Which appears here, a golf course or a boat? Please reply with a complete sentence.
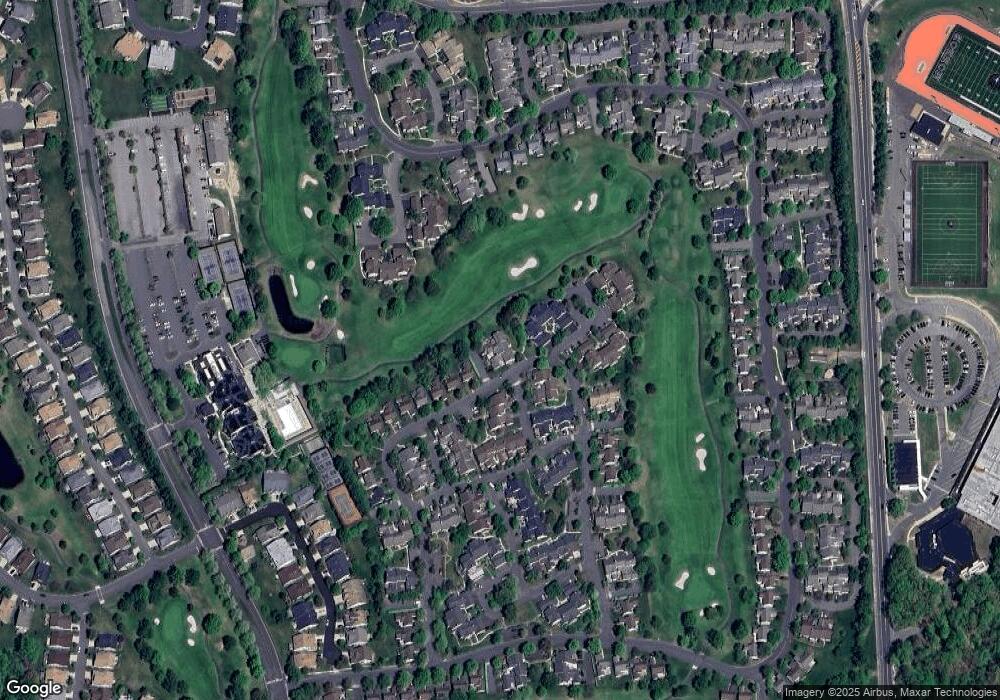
Visible in the photo is a golf course.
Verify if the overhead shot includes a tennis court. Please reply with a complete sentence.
Yes, the photo shows a tennis court.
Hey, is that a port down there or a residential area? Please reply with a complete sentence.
This looks like a residential area.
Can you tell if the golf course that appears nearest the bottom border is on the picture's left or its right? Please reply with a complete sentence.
It is on the left.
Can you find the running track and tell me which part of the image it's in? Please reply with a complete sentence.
The running track sits in the top right section of the image.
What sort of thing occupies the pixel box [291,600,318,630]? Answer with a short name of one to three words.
house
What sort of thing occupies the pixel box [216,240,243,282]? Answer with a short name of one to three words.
tennis court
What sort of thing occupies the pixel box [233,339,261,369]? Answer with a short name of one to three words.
building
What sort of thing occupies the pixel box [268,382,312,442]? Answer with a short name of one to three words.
swimming pool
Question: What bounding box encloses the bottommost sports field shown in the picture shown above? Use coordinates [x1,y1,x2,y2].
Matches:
[912,160,988,287]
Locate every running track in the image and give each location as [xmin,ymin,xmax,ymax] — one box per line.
[896,15,1000,137]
